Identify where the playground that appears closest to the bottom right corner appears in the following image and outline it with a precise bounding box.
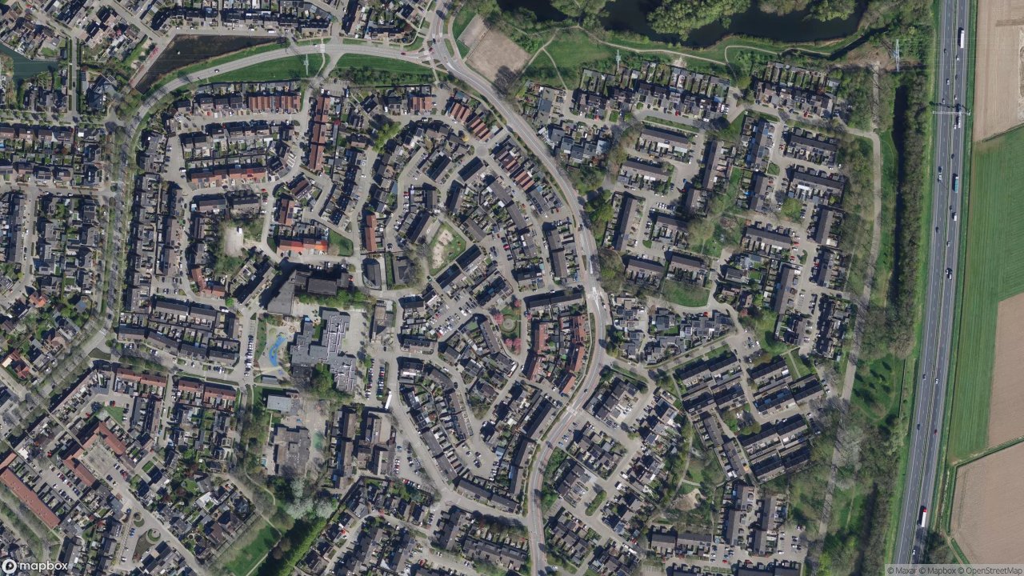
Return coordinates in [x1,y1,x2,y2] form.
[671,488,705,510]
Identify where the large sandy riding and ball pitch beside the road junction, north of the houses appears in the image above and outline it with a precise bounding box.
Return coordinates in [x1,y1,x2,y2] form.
[468,30,531,82]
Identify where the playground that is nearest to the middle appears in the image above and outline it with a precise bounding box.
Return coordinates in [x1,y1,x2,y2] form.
[431,228,458,271]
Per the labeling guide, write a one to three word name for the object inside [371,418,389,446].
building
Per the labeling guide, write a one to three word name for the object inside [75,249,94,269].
house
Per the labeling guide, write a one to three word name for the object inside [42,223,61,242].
house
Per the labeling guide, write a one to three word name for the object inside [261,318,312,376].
playground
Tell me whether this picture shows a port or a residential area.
residential area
